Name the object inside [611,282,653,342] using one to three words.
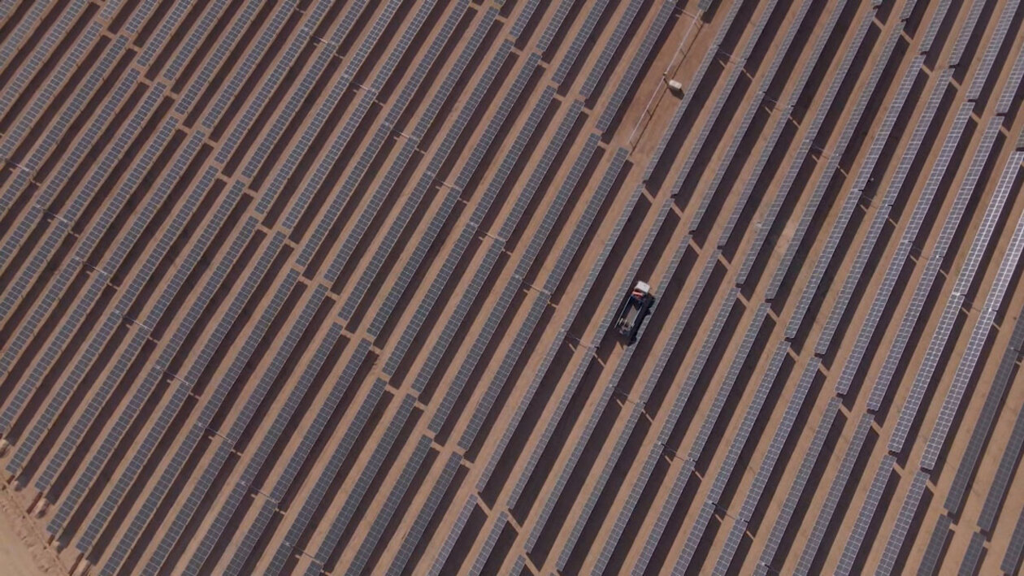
truck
